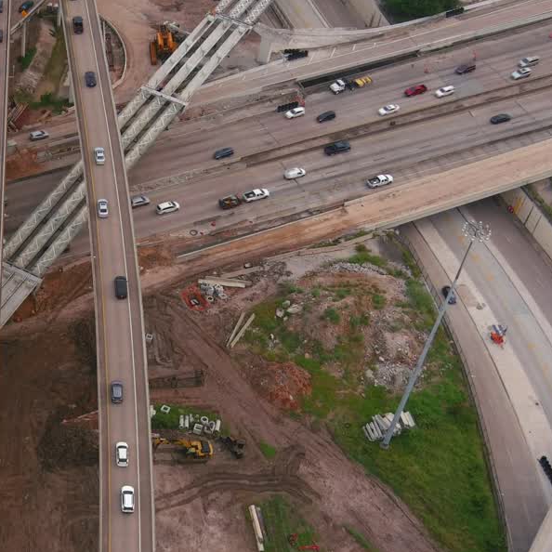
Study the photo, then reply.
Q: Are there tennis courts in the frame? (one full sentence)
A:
No, the picture doesn't show any tennis court.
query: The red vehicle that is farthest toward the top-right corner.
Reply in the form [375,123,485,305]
[403,84,429,96]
